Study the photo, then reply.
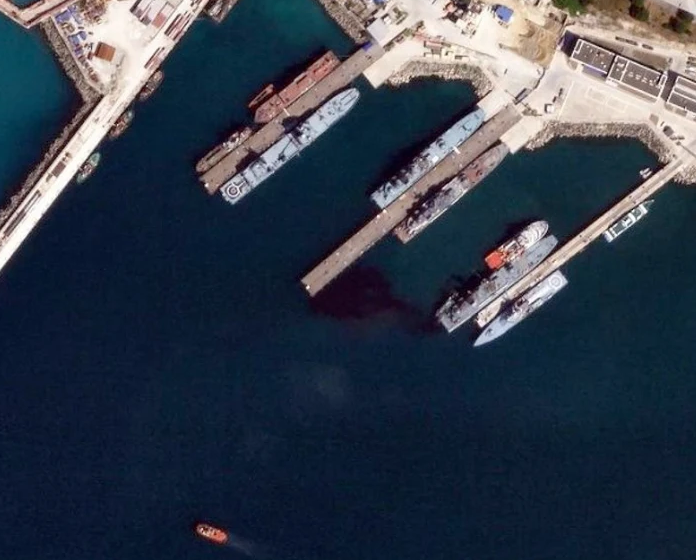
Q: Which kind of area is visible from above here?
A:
port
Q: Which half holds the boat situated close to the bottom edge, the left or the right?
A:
left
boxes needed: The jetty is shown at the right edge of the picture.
[475,158,687,326]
